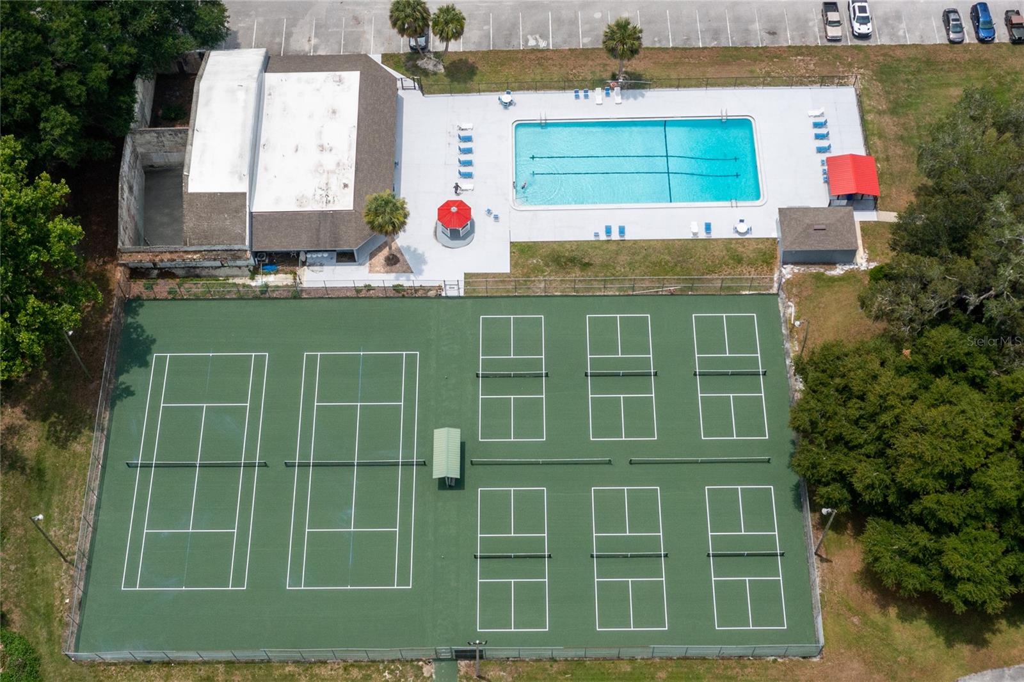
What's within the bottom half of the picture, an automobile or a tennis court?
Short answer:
tennis court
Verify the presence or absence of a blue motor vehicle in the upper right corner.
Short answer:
Yes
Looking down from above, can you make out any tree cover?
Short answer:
Yes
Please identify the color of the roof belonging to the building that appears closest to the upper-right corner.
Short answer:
red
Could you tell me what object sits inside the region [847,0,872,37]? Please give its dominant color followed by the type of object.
white truck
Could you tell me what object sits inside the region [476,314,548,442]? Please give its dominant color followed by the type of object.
green sports court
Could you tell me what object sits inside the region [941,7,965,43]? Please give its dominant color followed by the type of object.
gray car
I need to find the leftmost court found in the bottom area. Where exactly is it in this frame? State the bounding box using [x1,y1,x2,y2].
[120,351,270,591]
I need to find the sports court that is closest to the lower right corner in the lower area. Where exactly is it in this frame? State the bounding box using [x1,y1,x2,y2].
[704,485,788,630]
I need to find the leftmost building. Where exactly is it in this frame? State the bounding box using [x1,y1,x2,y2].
[183,48,269,253]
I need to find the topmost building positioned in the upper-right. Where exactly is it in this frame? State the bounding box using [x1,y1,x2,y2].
[825,151,880,219]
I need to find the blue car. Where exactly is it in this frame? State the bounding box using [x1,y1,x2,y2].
[971,2,996,41]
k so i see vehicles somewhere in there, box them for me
[1002,5,1024,44]
[941,7,965,43]
[820,2,842,40]
[847,0,872,37]
[971,2,996,41]
[411,14,429,50]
